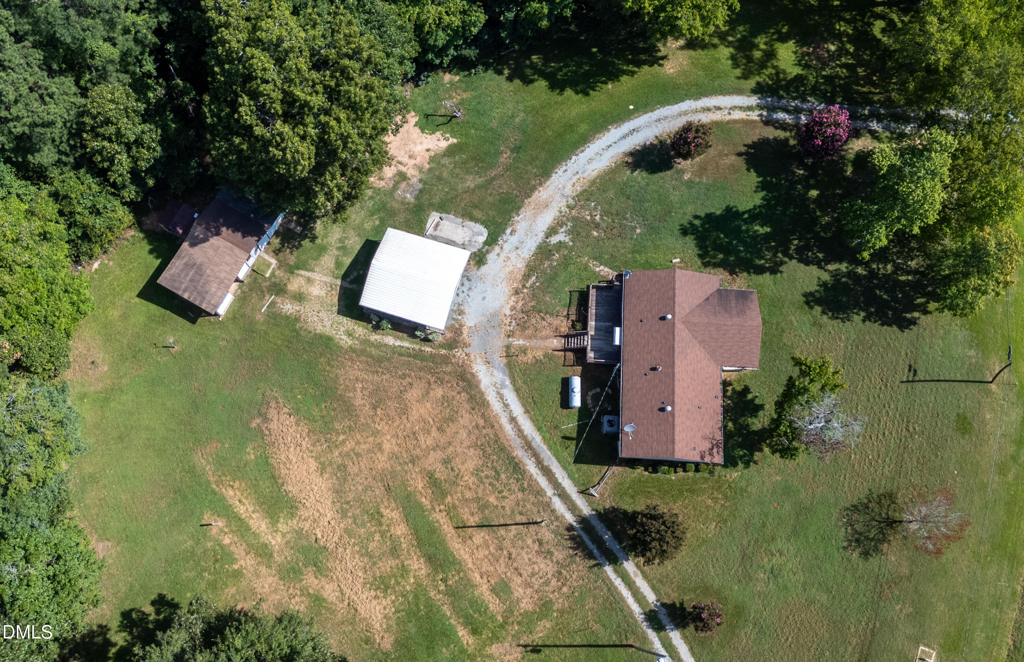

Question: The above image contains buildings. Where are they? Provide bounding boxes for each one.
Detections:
[358,227,472,334]
[157,175,297,320]
[612,269,763,465]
